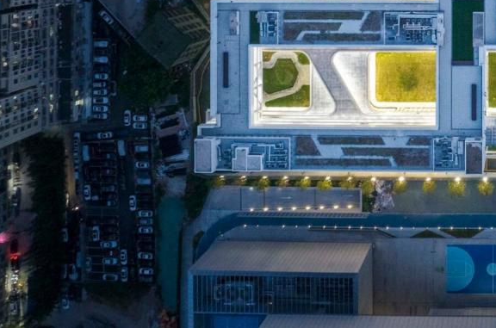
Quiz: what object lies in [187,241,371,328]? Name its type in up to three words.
building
